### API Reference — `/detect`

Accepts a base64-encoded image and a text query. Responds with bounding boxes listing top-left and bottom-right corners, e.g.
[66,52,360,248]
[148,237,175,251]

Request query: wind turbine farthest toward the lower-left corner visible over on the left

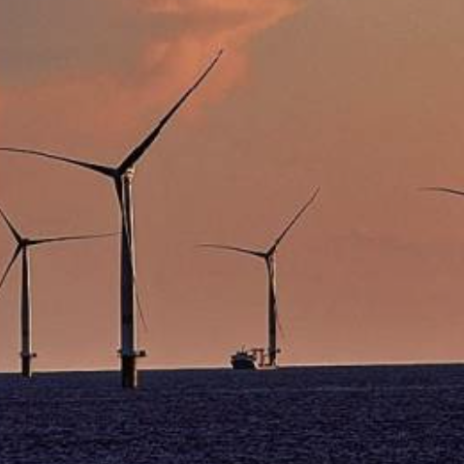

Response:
[0,204,115,375]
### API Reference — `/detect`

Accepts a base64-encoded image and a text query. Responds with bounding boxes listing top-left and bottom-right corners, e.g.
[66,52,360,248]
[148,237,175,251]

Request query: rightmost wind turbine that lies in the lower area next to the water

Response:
[203,189,319,369]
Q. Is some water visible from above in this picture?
Yes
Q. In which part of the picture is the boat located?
bottom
